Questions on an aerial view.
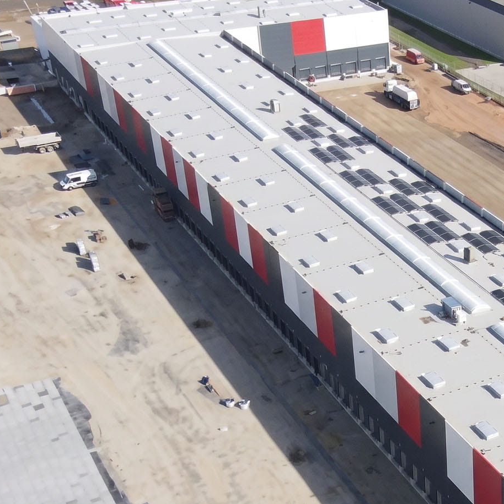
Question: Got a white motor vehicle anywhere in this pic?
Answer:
Yes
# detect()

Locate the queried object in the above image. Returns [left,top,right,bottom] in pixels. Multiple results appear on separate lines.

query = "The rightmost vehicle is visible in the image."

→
[448,75,473,94]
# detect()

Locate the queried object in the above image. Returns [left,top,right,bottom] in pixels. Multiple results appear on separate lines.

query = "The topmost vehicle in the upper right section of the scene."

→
[407,44,423,61]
